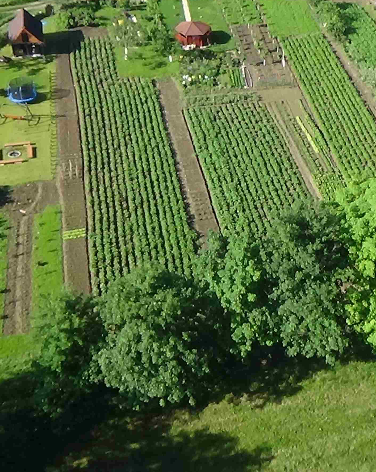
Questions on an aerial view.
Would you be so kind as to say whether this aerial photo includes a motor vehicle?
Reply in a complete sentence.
No, I can see no motor vehicle in this picture.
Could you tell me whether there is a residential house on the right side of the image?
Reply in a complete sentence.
No, the scene shows no residential house on the right side of the image.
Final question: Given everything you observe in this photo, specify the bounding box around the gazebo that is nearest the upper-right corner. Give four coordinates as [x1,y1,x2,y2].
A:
[174,20,212,52]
